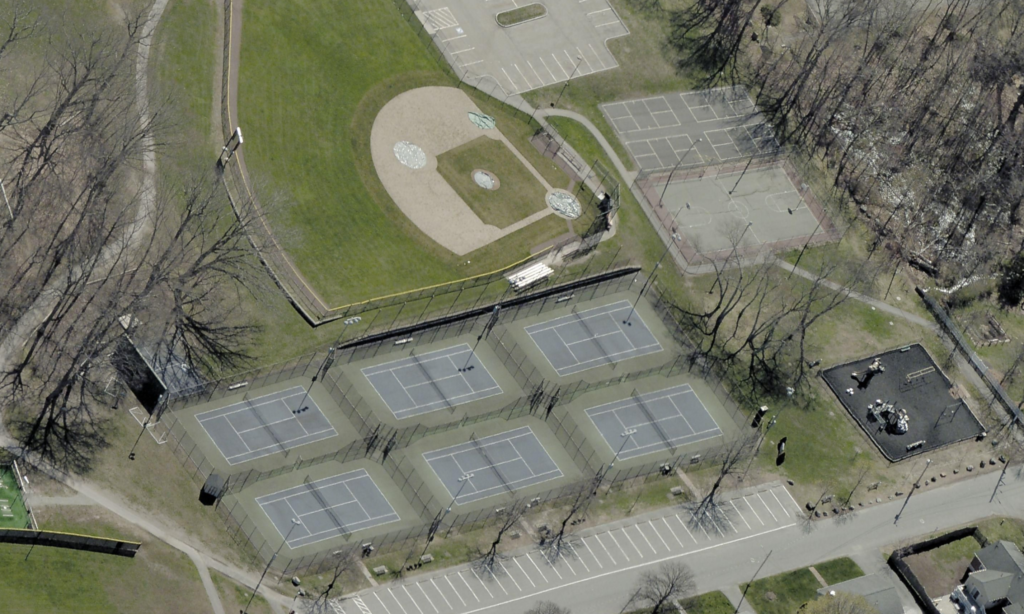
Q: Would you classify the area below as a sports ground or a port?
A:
sports ground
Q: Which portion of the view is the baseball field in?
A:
top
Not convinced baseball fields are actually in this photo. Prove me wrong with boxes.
[225,0,605,313]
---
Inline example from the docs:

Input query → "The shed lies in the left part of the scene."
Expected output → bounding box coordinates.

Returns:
[201,478,229,503]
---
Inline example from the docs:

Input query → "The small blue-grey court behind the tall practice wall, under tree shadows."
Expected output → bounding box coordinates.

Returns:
[136,336,203,398]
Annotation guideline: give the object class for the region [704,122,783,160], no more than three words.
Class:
tennis court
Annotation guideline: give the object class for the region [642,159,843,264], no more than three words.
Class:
basketball court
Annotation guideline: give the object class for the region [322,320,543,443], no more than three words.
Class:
tennis court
